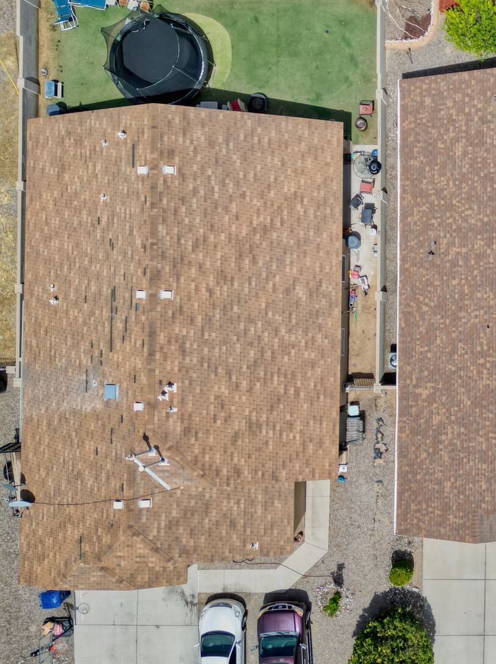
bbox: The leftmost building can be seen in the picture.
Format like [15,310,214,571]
[17,103,353,594]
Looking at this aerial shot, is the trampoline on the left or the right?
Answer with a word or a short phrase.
left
